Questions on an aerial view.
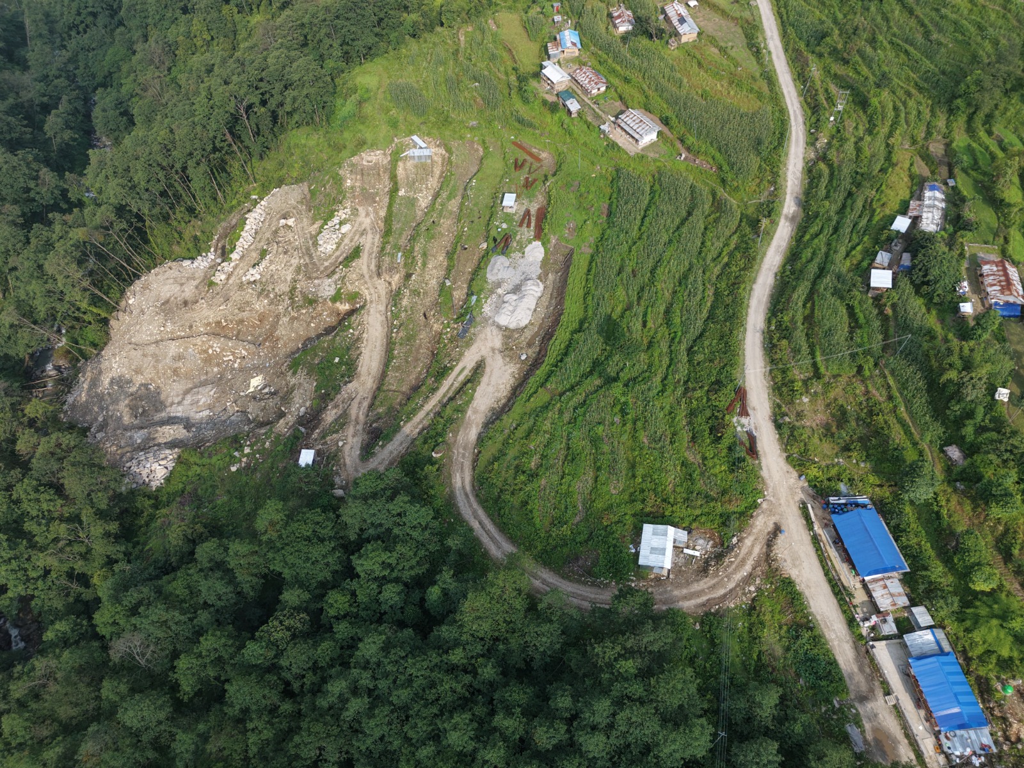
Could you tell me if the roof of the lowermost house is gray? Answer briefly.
No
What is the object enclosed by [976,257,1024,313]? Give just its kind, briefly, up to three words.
house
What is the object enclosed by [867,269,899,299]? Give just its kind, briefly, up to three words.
shed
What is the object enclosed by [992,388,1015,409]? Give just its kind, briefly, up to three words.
shed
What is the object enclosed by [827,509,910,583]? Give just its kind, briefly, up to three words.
house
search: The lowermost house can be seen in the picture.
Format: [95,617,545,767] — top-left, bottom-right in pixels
[903,656,985,737]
